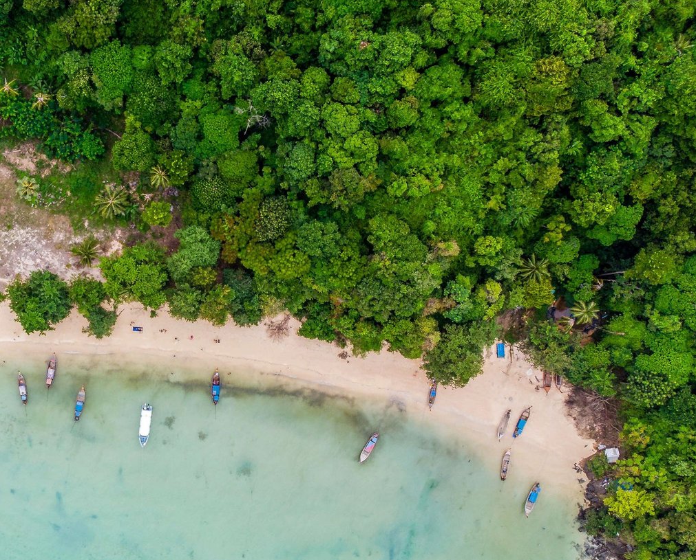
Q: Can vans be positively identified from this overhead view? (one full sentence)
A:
No, I can't see a single van in this photo.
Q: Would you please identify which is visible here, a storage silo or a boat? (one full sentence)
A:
Of the two, only a boat appears.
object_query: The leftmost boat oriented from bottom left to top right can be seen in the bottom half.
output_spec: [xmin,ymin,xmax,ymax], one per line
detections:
[360,432,380,464]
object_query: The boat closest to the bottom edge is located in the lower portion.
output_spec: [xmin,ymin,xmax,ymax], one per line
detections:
[526,482,541,519]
